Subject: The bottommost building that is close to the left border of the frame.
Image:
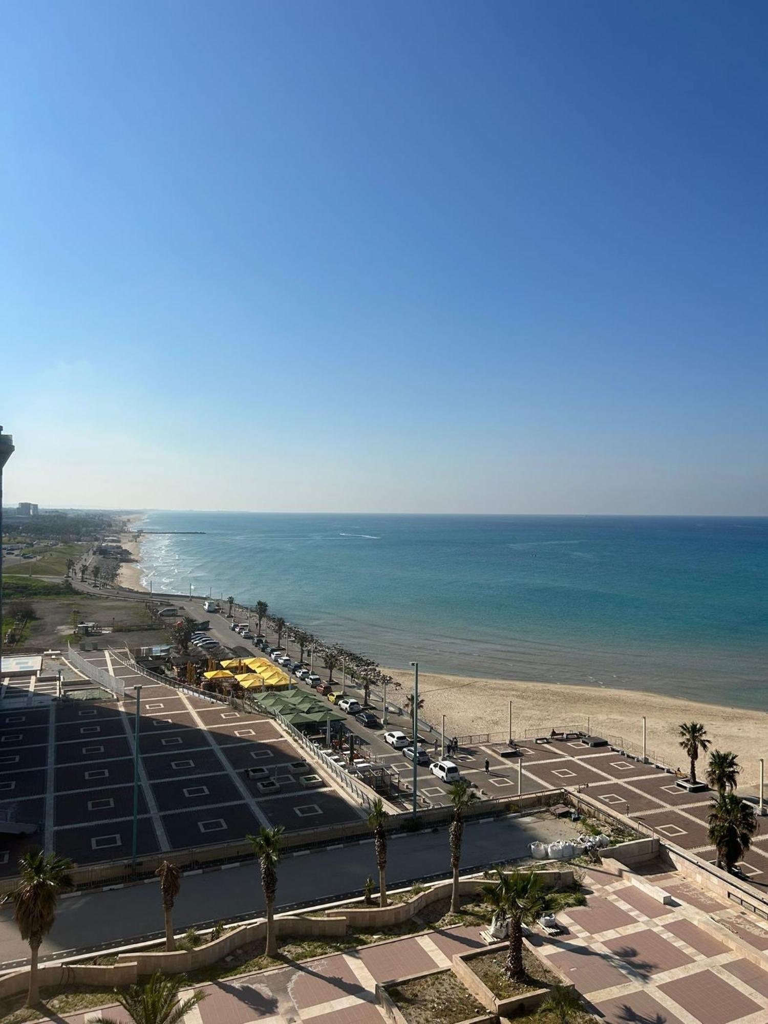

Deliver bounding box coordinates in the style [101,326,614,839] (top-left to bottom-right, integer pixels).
[0,654,42,688]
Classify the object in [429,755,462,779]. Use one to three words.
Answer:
car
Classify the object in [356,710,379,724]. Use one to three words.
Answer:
car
